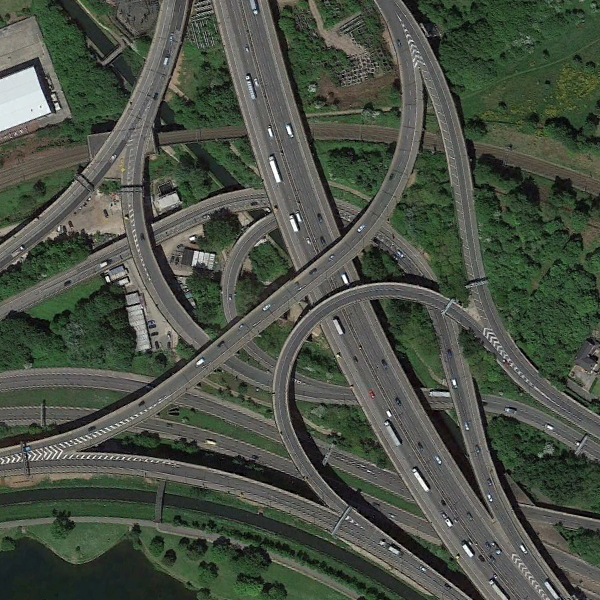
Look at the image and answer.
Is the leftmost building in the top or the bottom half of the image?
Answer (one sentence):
Seen from above, the leftmost building lies in the top half of the view.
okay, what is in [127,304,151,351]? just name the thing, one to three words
shed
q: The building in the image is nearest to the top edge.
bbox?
[0,66,52,134]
